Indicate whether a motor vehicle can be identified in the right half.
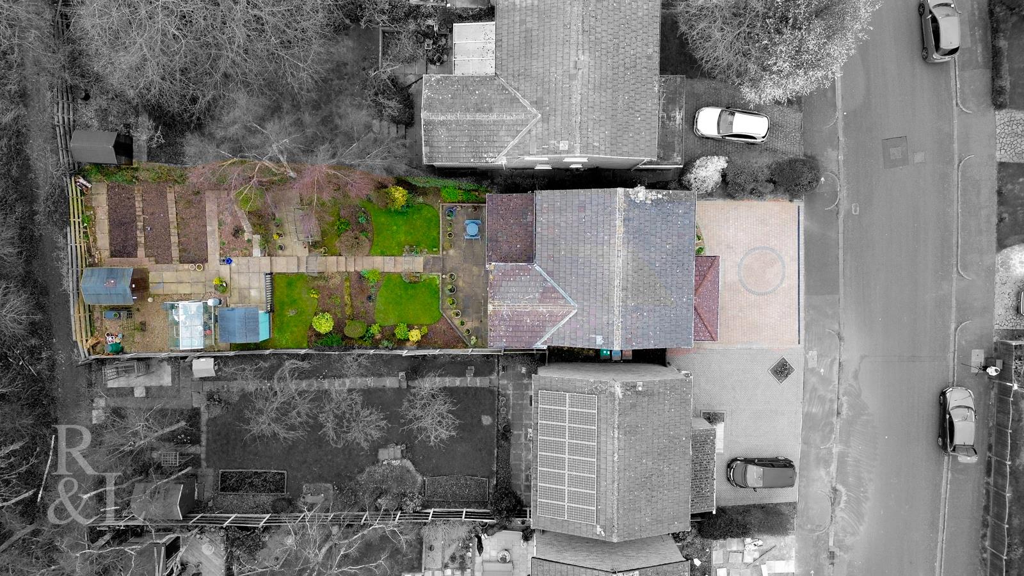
Yes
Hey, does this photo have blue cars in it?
No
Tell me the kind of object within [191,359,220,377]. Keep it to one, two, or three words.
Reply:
shed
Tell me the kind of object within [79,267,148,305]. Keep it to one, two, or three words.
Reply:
shed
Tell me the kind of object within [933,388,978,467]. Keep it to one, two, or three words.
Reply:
car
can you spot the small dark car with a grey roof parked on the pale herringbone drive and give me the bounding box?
[725,456,797,494]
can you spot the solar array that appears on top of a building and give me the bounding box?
[539,390,596,524]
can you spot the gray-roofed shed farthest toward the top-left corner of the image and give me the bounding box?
[67,131,132,169]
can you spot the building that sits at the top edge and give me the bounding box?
[419,0,685,174]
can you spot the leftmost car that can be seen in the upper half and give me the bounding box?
[692,104,771,147]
